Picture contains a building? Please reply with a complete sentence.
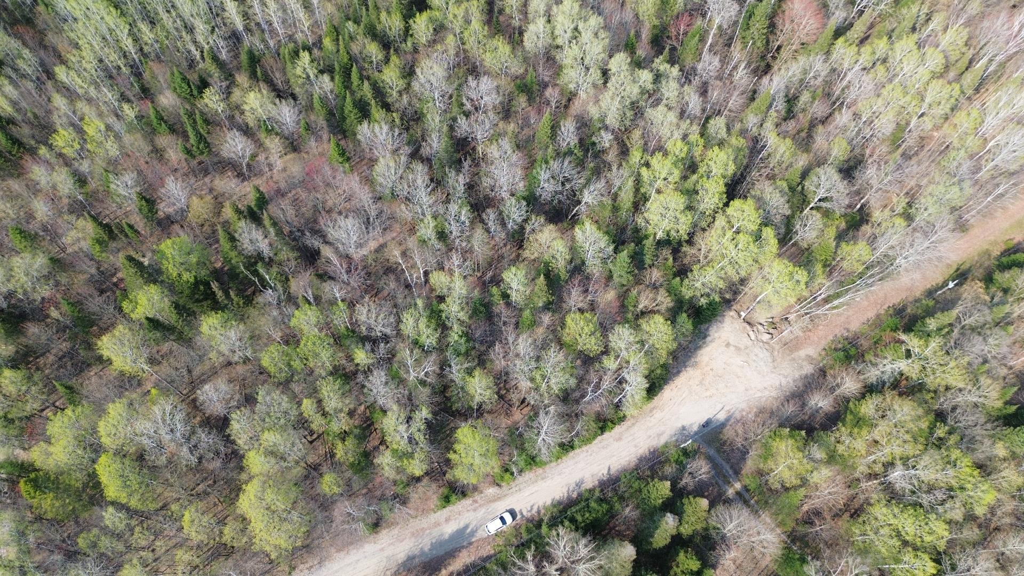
No, the photo shows no building.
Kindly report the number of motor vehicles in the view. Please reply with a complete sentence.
My tally gives 1 motor vehicle in this photo.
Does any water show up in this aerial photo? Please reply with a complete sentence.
No, there's no water in this view.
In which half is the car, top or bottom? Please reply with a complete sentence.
The car is in the bottom half of the image.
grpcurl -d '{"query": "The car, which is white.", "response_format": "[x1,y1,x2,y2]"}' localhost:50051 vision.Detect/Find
[485,512,513,536]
